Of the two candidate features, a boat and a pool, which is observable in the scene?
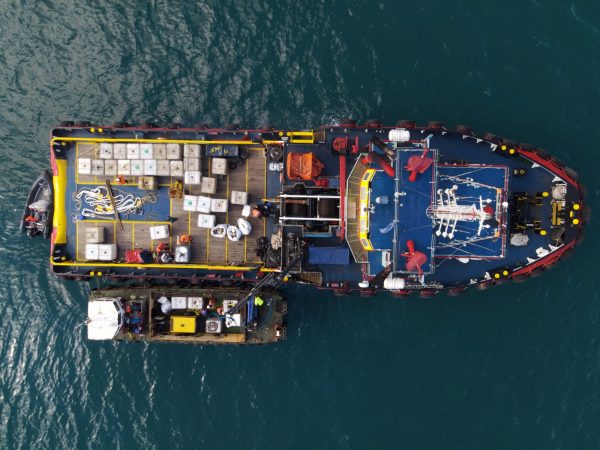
boat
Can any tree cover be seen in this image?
No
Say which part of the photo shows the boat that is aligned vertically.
left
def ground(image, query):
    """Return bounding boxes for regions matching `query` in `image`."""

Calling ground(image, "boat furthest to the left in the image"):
[19,169,54,241]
